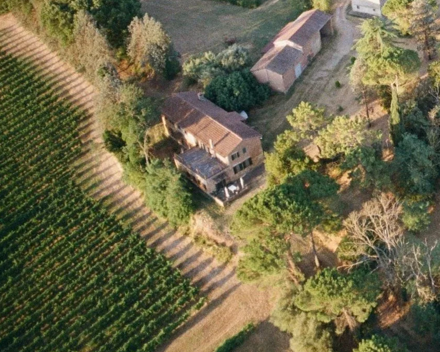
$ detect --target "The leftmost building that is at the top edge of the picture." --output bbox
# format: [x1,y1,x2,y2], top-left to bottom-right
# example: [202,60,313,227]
[255,5,332,92]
